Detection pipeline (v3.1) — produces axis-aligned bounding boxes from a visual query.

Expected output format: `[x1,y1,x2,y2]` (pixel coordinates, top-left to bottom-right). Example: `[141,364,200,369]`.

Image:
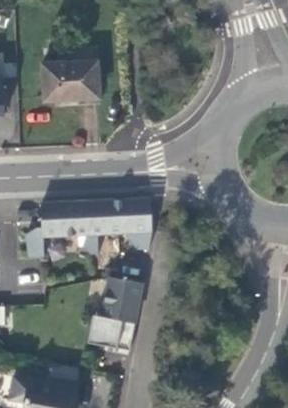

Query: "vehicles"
[107,100,120,120]
[18,274,40,284]
[122,266,140,276]
[26,112,50,123]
